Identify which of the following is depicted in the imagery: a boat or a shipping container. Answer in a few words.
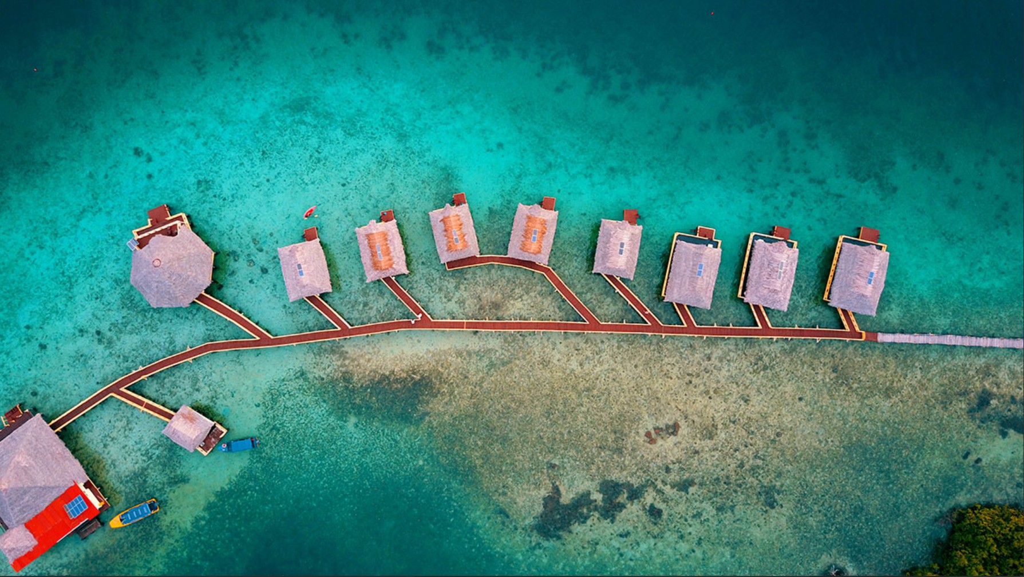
boat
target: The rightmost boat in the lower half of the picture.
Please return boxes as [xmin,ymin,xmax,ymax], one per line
[216,436,259,454]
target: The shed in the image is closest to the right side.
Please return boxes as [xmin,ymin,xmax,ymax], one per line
[817,226,890,317]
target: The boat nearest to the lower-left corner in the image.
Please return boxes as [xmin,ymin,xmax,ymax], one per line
[106,499,160,530]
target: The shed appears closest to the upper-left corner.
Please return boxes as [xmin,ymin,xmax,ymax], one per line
[128,203,223,310]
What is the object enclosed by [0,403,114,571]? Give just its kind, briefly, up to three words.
building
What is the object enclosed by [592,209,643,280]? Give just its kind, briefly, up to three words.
shed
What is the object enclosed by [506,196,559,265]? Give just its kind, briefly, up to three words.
shed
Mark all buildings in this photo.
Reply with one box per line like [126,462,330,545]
[161,403,235,456]
[128,203,223,310]
[506,196,559,265]
[734,225,799,312]
[592,209,643,280]
[660,226,723,311]
[0,403,114,571]
[355,209,410,283]
[817,226,890,317]
[276,226,334,302]
[428,192,481,263]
